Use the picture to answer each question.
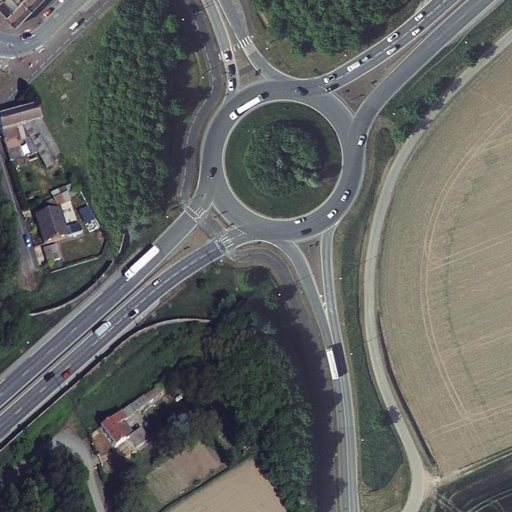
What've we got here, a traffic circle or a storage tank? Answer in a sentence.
Looking from above, you can make out a traffic circle.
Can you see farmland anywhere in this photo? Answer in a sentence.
Yes, there is farmland in the image.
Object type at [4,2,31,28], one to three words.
house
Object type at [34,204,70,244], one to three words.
house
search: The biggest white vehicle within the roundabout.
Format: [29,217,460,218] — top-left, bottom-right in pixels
[232,94,264,118]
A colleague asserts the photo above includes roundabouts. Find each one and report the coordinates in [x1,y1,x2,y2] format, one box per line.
[201,78,364,242]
